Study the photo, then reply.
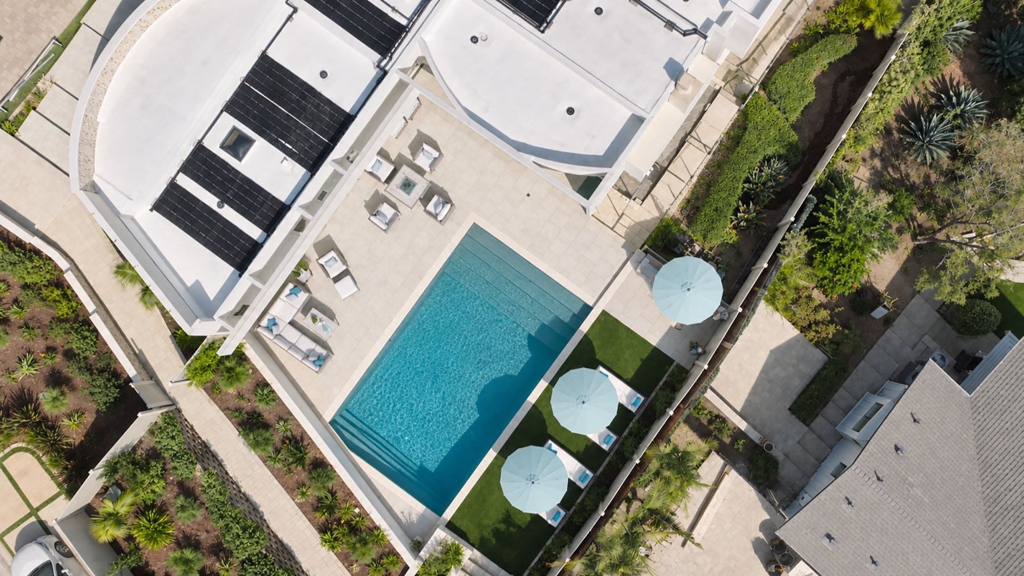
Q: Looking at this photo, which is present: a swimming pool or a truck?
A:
swimming pool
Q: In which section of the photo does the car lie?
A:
bottom left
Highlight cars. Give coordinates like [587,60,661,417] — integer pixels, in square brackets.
[11,532,86,576]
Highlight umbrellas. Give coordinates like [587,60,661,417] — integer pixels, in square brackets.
[651,256,721,325]
[549,366,618,435]
[499,443,568,513]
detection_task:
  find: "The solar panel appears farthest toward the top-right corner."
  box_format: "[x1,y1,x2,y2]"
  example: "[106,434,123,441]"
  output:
[498,0,560,30]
